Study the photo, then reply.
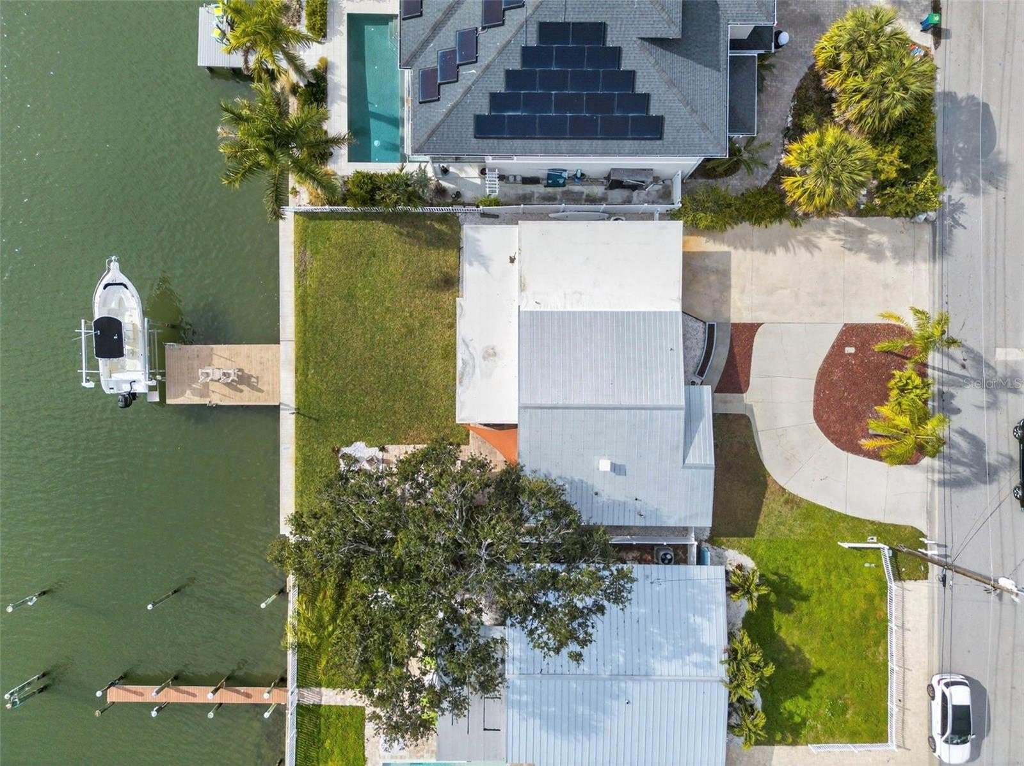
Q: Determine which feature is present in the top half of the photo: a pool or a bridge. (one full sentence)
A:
There is a pool in the top half of the photo.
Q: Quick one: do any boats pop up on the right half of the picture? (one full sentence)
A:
No, no boat can be made out on the right half of the picture.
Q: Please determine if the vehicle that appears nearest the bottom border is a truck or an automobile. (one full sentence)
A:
It looks like the vehicle that appears nearest the bottom border is an automobile.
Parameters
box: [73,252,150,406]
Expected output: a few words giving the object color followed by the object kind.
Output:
white boat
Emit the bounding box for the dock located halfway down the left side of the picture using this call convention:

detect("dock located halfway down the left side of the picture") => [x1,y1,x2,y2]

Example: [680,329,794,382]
[165,344,281,408]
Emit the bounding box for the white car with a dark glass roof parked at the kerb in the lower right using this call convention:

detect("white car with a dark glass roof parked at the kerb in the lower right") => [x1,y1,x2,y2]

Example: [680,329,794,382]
[928,674,976,762]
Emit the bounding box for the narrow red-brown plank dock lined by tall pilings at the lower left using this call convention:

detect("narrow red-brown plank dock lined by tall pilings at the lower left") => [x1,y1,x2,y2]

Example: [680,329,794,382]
[107,680,287,703]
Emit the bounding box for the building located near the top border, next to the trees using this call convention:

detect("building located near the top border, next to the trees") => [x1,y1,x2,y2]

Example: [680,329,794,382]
[397,0,779,182]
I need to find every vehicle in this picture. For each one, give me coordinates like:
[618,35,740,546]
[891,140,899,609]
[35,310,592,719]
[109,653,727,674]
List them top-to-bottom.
[1013,419,1024,514]
[928,674,976,762]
